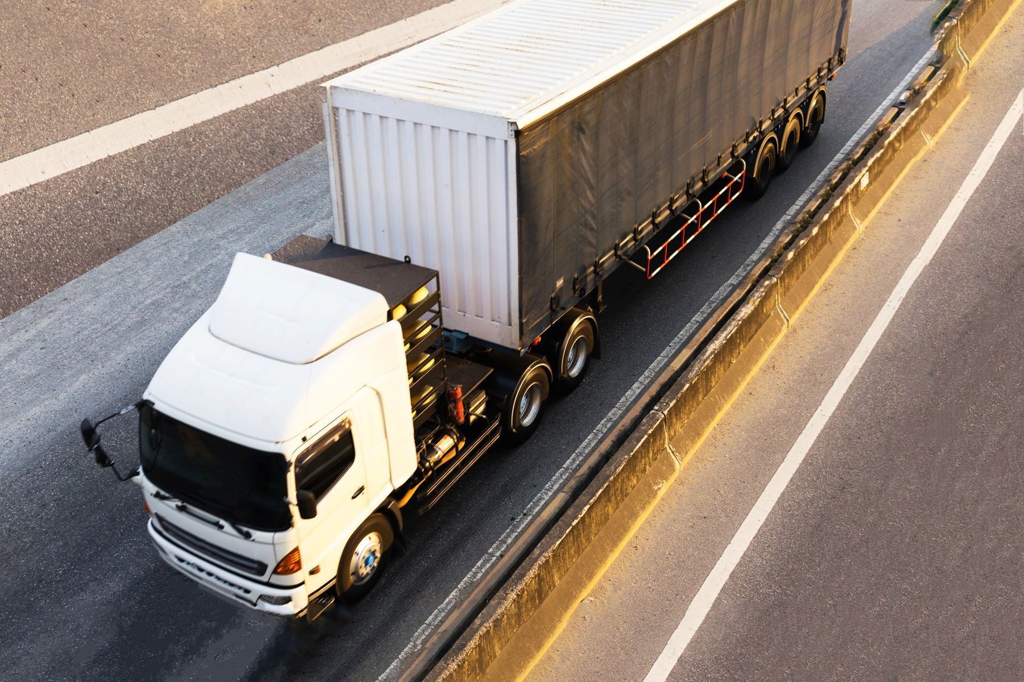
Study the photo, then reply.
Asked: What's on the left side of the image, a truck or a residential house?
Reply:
truck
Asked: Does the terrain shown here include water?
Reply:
No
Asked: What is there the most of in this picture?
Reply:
paved ground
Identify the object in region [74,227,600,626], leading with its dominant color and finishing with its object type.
white truck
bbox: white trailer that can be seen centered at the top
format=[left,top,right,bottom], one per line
[323,0,852,359]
